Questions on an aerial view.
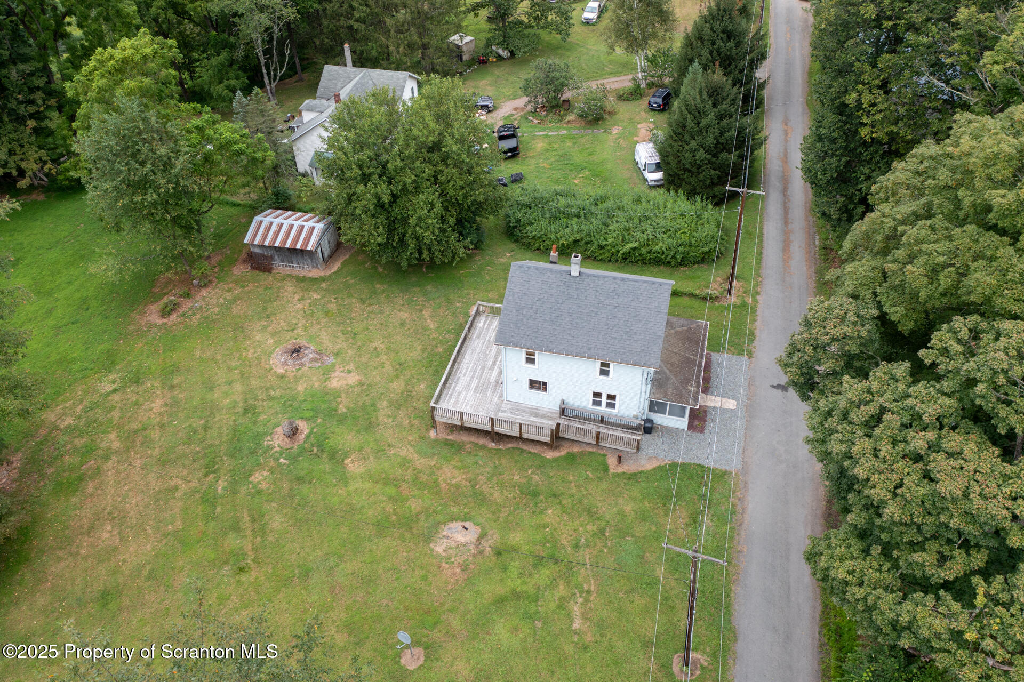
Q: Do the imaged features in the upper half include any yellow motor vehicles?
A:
No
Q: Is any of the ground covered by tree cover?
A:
Yes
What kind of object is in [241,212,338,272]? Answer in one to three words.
shed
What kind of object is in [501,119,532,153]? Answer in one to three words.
truck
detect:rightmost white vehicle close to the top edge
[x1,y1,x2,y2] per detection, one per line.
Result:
[584,0,606,20]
